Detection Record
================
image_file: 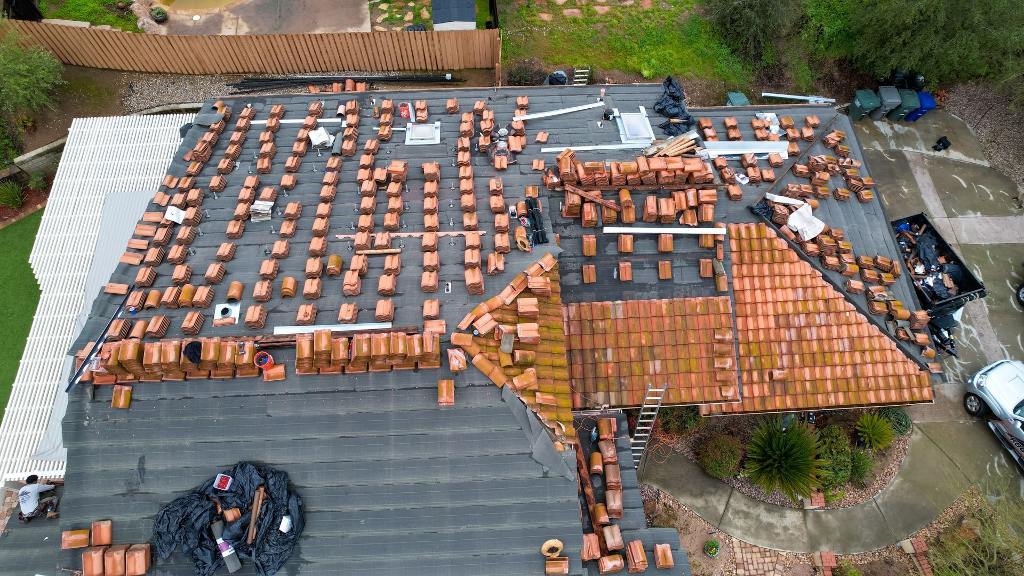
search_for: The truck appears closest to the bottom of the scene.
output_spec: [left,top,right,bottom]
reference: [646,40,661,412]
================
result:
[962,355,1024,490]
